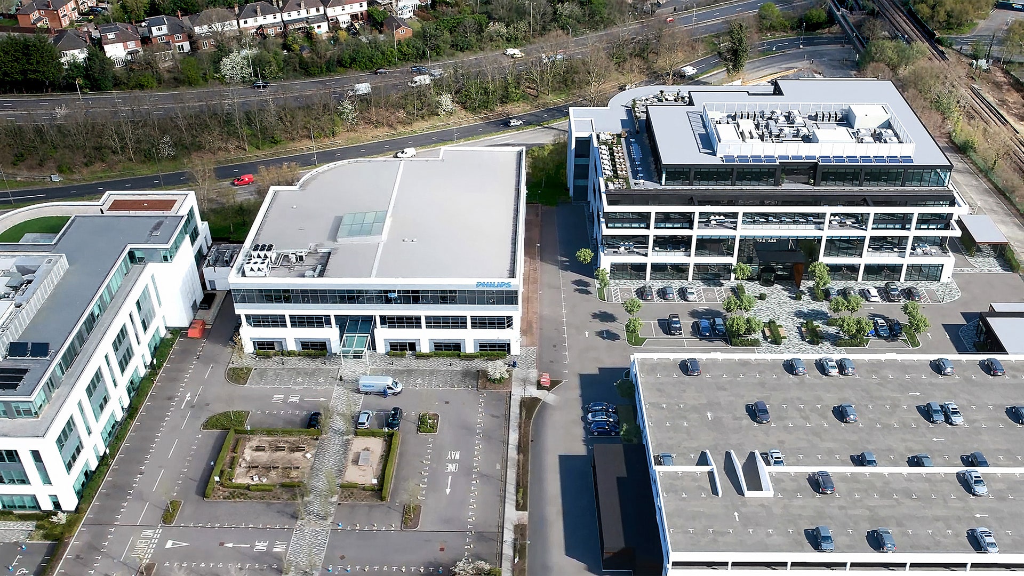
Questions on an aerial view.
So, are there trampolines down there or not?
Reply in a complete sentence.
No, the frame has no trampoline in it.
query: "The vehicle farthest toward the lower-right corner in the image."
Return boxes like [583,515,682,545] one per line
[974,524,1000,554]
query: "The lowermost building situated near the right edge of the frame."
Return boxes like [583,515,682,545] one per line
[973,311,1024,355]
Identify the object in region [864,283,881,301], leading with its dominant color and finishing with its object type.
white car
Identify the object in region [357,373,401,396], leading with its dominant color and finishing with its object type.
white vehicle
